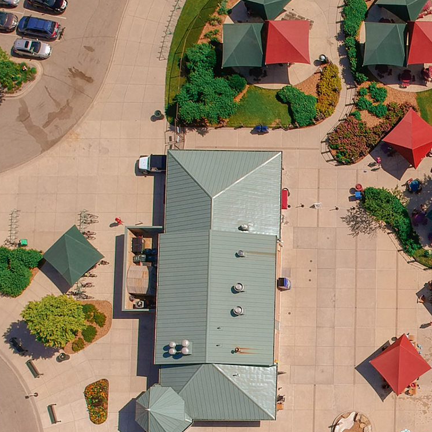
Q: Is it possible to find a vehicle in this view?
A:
Yes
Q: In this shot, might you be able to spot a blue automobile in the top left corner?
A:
Yes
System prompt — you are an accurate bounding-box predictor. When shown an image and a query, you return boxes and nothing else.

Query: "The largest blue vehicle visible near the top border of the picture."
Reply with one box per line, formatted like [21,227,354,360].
[16,16,62,42]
